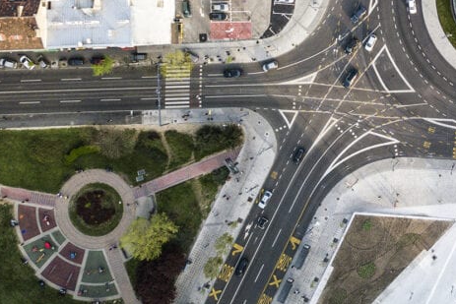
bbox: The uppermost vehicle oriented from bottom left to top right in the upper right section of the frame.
[350,4,370,22]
